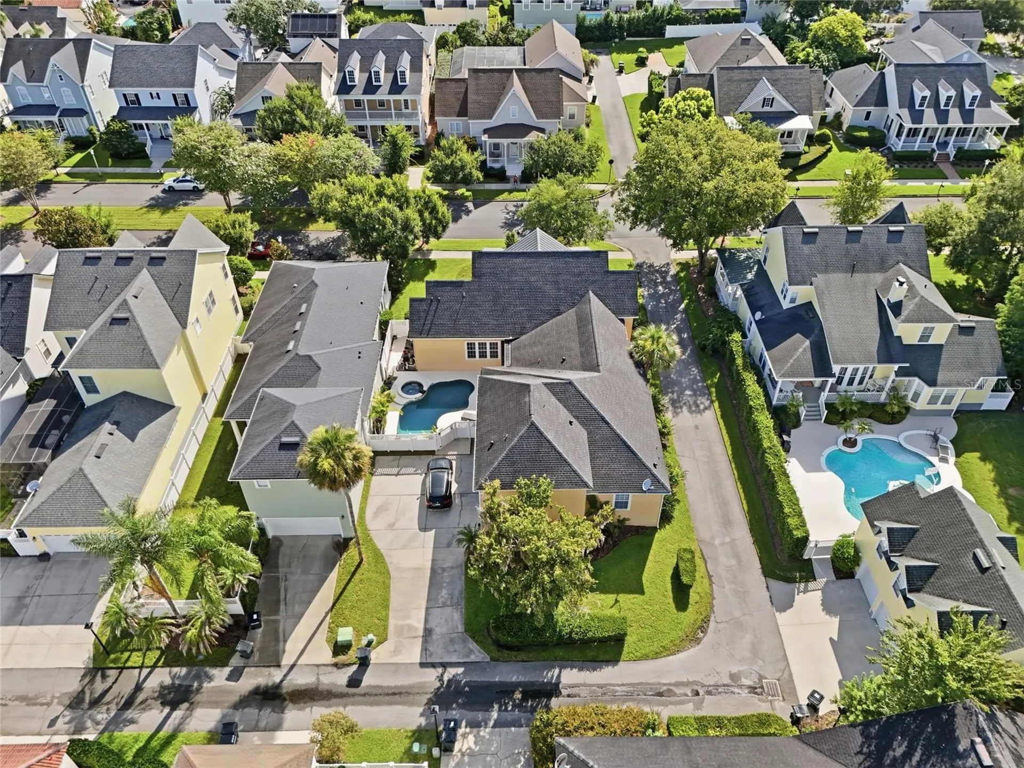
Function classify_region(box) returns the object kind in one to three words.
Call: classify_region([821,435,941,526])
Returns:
swimming pool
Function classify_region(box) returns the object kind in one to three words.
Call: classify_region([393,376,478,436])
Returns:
swimming pool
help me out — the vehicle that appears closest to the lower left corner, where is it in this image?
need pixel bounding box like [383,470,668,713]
[424,455,457,509]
